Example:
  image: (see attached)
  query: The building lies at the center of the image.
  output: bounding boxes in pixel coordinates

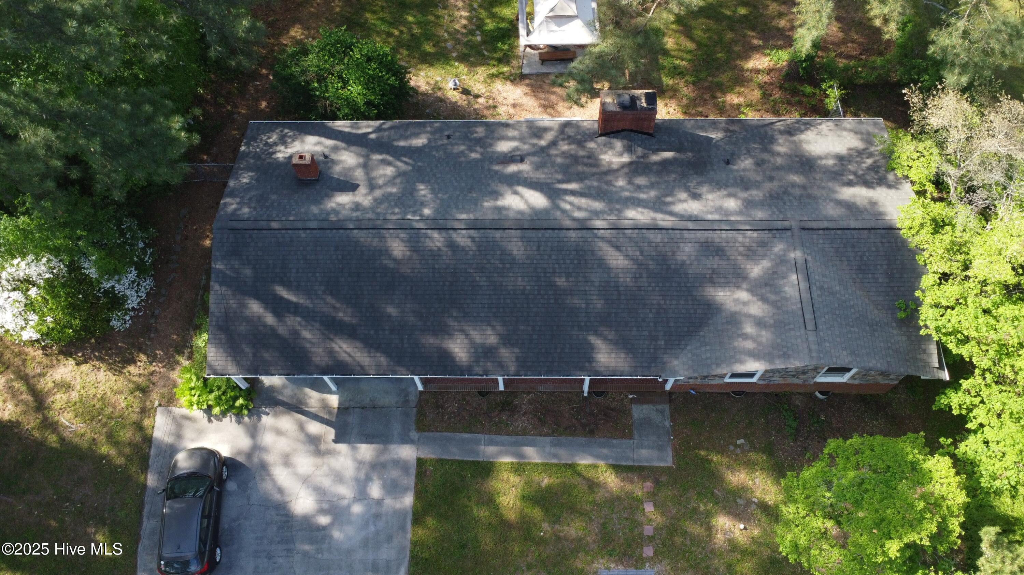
[206,89,948,402]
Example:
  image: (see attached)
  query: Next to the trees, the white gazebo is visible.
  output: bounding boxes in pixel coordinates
[518,0,602,73]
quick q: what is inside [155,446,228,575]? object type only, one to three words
car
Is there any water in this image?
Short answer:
No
